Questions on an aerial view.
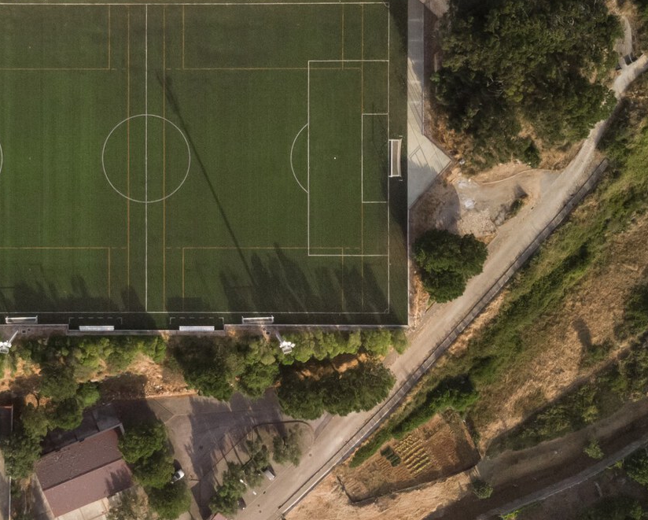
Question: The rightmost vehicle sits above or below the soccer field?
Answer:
below it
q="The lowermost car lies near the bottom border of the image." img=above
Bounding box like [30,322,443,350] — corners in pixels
[234,497,249,515]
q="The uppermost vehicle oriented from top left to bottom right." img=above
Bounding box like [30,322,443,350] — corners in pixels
[258,465,280,485]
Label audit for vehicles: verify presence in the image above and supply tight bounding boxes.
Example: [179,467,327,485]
[258,465,280,485]
[234,497,249,515]
[172,468,187,484]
